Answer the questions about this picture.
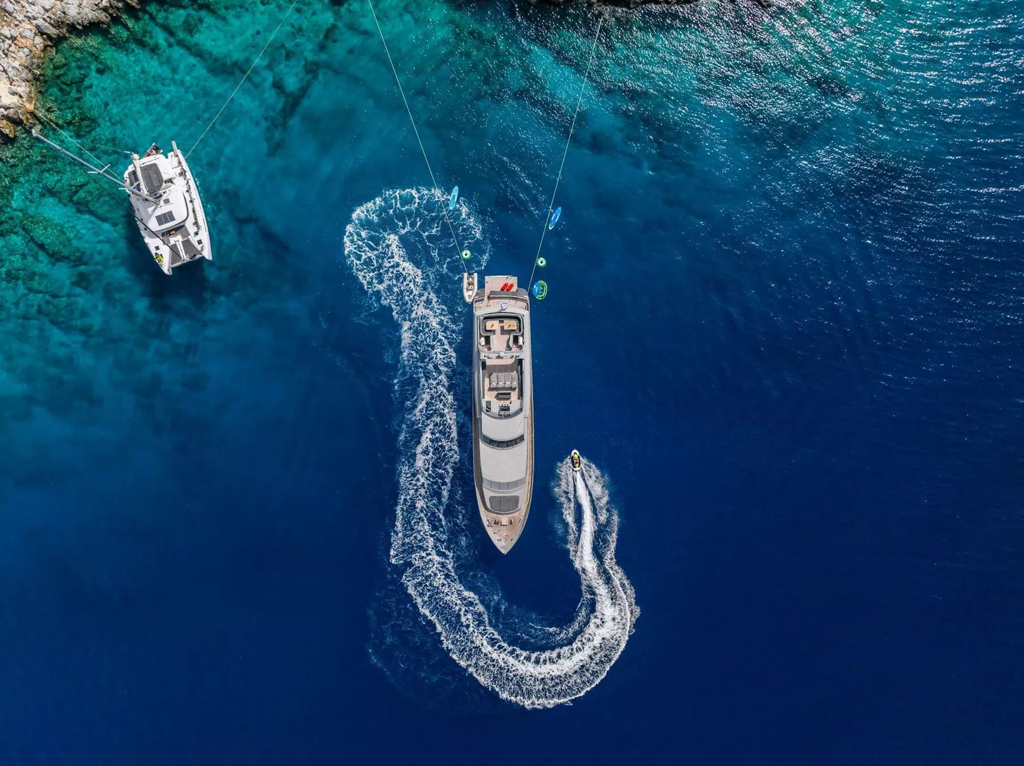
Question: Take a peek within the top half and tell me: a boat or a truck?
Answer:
boat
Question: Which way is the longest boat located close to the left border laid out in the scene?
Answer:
diagonally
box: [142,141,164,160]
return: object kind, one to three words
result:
boat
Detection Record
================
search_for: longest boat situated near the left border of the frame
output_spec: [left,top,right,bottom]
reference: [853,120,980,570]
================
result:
[25,125,219,275]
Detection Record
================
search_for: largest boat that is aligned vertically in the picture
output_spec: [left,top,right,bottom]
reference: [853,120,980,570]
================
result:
[473,275,534,554]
